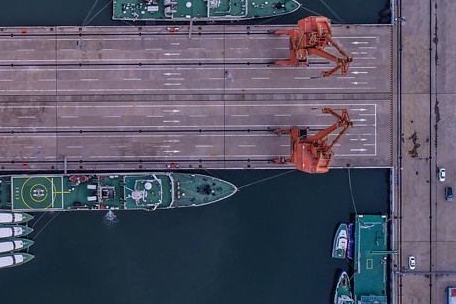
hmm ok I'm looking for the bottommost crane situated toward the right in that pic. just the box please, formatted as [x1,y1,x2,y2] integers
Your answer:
[272,105,360,176]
